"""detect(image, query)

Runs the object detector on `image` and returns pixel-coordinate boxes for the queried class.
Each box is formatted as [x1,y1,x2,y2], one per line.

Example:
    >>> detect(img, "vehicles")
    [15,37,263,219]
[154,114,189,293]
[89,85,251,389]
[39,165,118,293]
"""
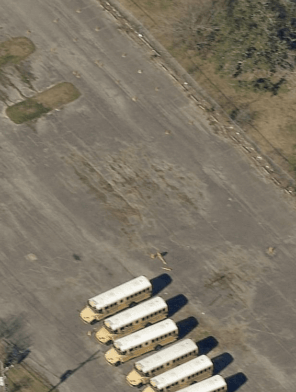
[103,318,178,369]
[77,275,153,326]
[124,339,198,390]
[142,355,214,392]
[178,373,227,392]
[94,296,169,347]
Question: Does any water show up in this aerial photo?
No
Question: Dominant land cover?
paved ground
